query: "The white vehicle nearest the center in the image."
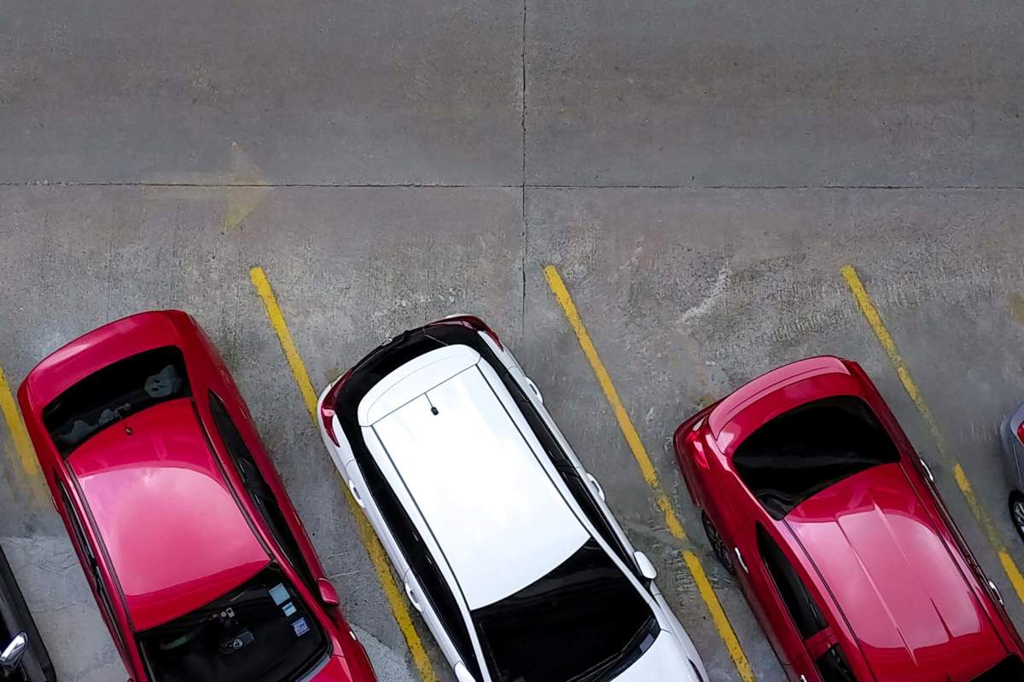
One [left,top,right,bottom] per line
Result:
[321,314,712,682]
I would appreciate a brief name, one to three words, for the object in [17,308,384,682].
car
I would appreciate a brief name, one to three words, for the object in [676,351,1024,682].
car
